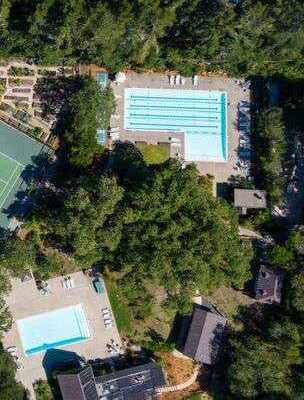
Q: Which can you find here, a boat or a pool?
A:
pool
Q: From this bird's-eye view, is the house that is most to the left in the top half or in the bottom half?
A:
bottom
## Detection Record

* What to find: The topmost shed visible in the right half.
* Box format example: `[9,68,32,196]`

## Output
[229,188,266,214]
